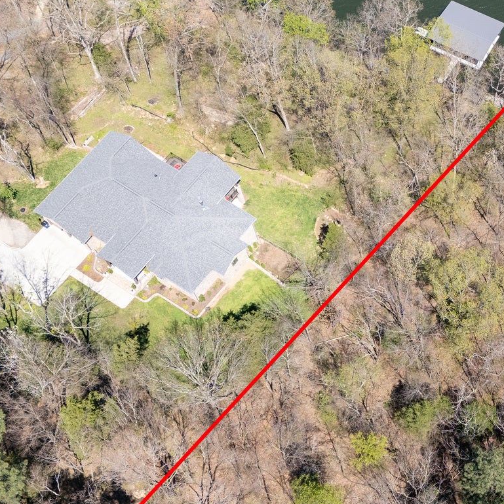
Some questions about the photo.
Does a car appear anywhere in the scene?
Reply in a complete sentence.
No, there isn't any car down there.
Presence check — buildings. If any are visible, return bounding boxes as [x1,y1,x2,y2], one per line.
[427,1,504,87]
[33,132,258,295]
